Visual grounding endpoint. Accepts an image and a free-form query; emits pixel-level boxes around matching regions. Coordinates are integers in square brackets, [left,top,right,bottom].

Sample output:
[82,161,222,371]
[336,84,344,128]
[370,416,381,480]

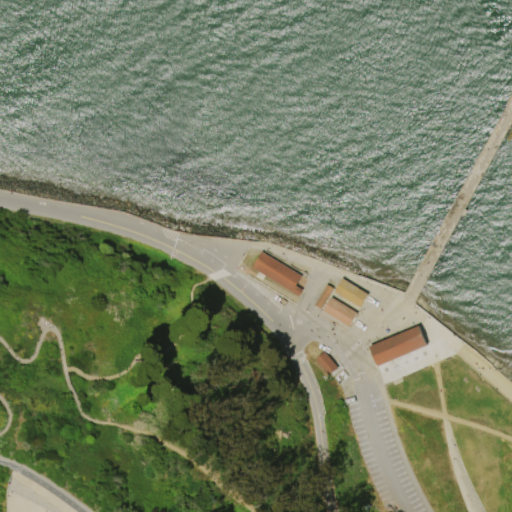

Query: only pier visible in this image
[406,90,512,300]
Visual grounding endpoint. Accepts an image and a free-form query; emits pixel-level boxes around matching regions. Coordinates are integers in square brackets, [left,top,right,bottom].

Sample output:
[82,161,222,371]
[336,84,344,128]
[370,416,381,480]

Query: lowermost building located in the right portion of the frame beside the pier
[370,324,429,366]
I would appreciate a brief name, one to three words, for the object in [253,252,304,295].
shed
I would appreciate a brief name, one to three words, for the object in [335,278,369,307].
shed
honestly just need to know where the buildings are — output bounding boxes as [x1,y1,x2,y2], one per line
[316,284,335,308]
[370,324,429,366]
[324,296,358,326]
[316,352,338,374]
[335,278,369,307]
[253,252,304,295]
